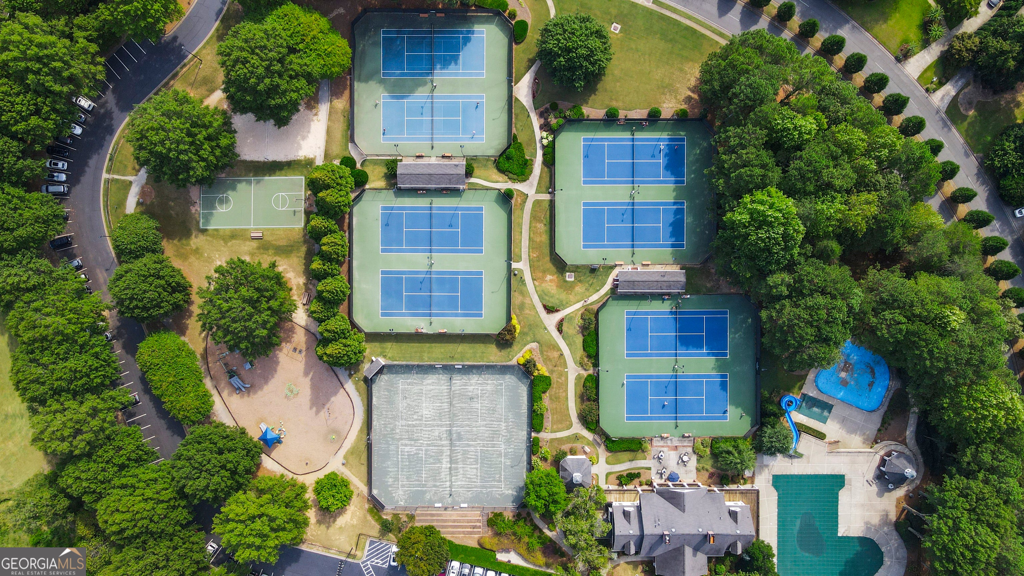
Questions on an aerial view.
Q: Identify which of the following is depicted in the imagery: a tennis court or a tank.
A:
tennis court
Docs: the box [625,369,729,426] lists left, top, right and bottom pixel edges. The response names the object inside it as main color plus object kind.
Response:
blue tennis court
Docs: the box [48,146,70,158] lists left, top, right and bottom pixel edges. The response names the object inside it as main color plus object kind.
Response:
black vehicle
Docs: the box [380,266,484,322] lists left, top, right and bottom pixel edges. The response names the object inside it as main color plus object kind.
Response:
blue tennis court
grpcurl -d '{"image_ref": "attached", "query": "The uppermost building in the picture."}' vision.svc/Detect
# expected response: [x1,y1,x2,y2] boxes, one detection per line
[396,159,467,190]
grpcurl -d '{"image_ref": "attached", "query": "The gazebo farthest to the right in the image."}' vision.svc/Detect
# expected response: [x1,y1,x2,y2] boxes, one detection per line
[878,449,916,484]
